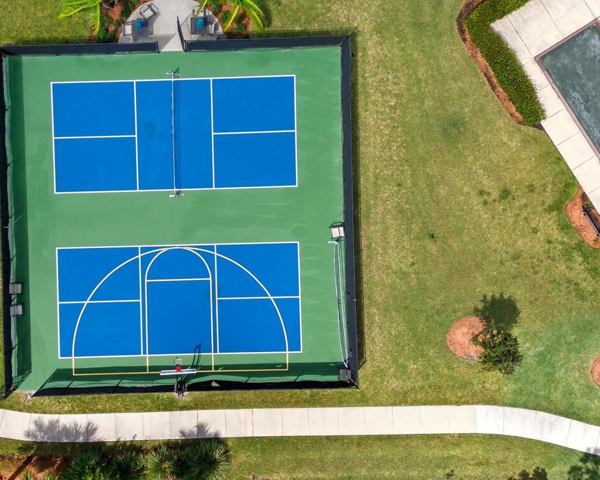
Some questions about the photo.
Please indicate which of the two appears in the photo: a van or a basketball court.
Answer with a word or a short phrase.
basketball court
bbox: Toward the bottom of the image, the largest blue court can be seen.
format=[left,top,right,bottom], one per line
[56,242,302,359]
